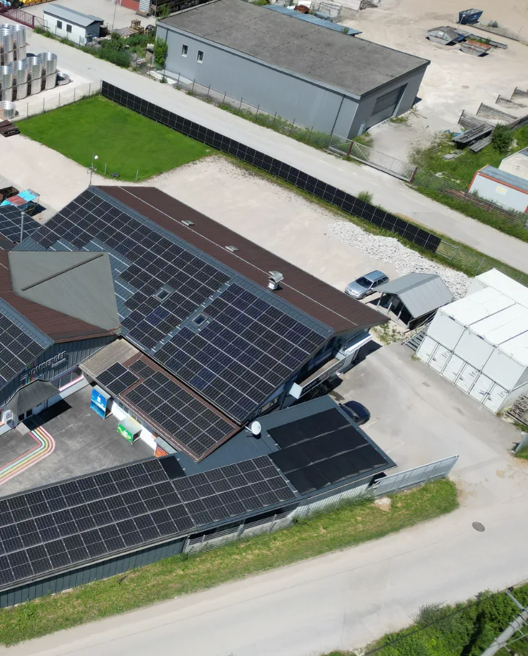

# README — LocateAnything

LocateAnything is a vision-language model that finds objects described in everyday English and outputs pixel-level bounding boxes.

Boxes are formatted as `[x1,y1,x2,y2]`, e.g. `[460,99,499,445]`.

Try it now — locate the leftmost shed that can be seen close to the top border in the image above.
[42,4,104,43]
